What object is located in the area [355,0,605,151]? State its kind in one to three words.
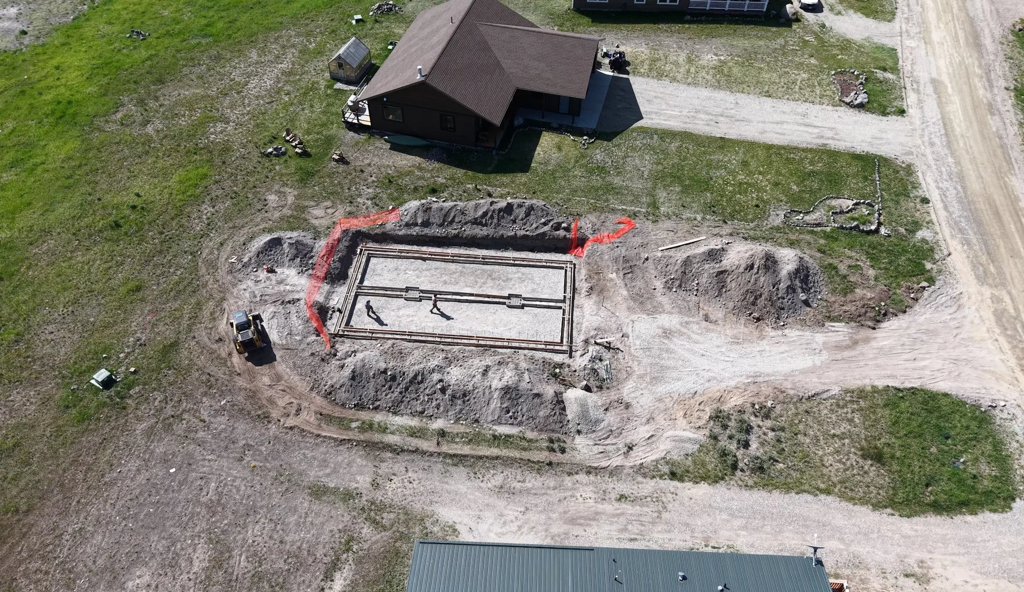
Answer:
house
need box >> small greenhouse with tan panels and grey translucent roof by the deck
[324,30,368,83]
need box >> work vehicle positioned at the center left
[219,306,266,355]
